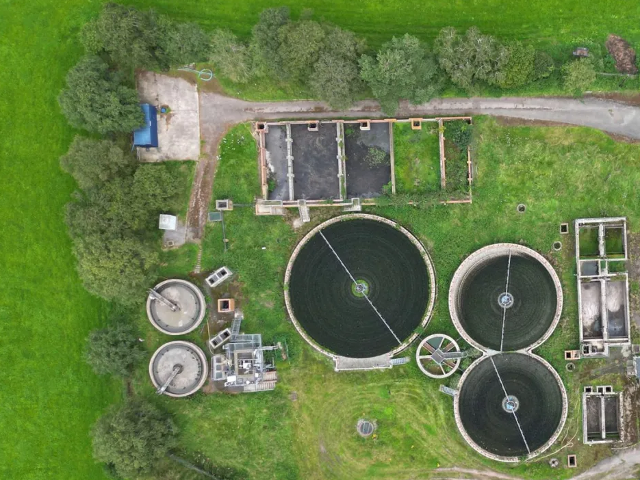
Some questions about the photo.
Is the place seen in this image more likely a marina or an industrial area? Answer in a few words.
industrial area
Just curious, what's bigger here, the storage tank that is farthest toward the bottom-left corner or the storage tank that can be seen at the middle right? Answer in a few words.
the storage tank that can be seen at the middle right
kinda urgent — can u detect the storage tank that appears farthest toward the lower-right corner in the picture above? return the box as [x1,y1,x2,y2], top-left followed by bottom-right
[582,385,624,445]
